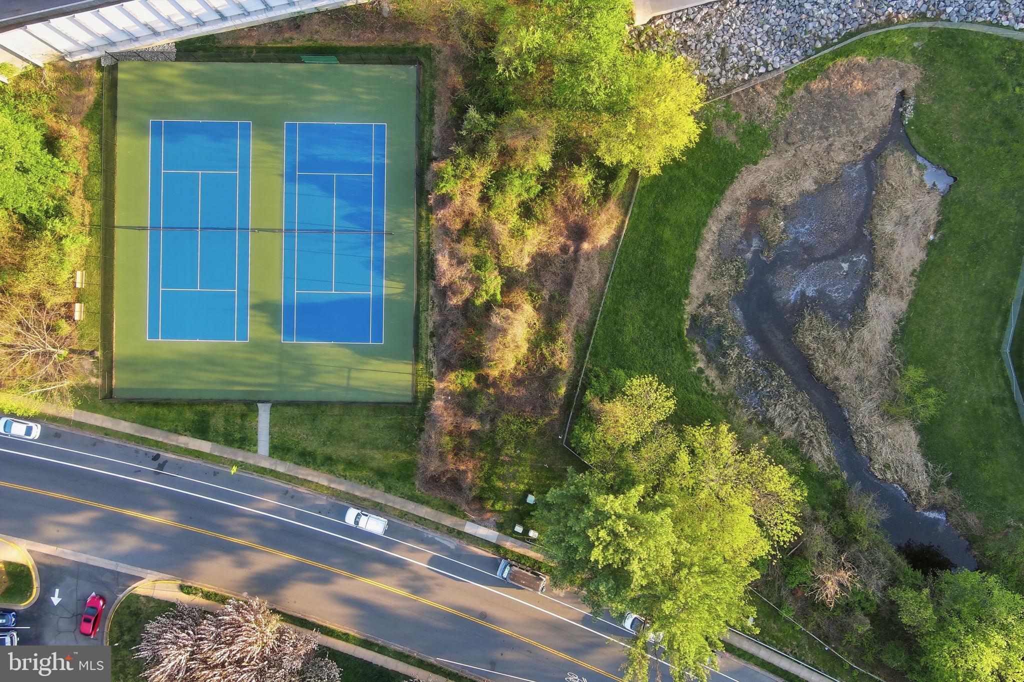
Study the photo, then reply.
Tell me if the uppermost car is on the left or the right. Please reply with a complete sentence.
The uppermost car is on the left side of the image.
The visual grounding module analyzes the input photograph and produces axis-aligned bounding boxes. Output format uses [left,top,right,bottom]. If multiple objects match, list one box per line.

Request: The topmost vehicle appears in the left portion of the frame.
[0,416,45,441]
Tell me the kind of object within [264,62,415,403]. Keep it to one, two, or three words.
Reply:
tennis court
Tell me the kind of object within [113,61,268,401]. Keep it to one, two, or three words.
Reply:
tennis court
